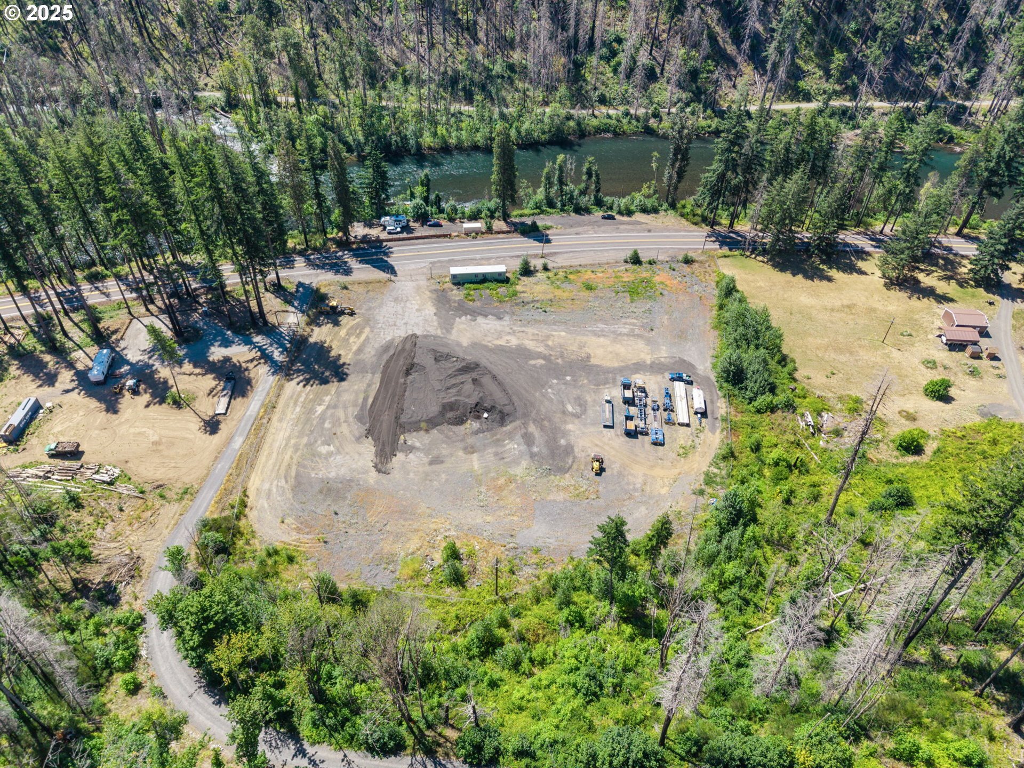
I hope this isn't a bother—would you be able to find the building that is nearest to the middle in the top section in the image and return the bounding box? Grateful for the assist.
[450,269,508,290]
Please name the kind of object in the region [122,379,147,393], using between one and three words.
work vehicle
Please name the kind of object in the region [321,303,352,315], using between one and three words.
vehicle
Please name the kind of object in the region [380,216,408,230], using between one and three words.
camper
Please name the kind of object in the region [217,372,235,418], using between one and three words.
vehicle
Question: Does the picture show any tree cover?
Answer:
Yes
